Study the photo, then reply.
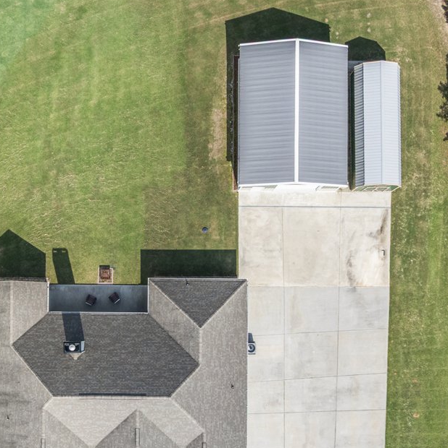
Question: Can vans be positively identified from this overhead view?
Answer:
No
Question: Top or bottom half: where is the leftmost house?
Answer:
bottom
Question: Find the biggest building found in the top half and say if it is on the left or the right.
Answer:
right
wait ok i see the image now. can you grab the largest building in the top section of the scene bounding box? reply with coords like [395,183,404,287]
[236,36,348,190]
